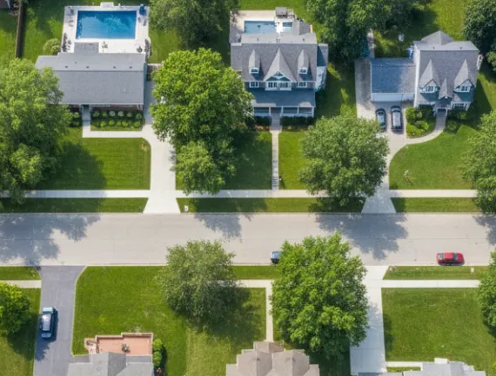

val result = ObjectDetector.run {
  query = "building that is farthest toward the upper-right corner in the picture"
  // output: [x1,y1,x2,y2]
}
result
[370,26,482,115]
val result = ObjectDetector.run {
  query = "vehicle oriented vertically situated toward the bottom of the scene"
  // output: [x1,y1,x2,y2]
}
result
[41,308,56,340]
